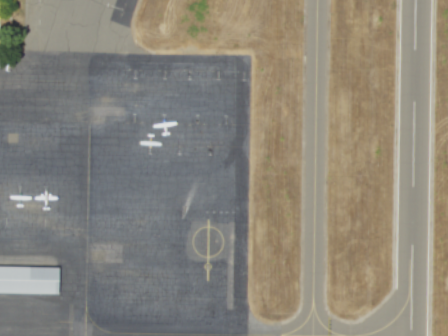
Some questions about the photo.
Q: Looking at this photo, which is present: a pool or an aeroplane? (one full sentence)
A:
Visible in the photo is an aeroplane.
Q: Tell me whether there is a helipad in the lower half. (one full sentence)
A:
Yes, a helipad can be seen in the lower half.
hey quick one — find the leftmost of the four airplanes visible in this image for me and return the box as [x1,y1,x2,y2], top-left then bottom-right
[9,193,32,208]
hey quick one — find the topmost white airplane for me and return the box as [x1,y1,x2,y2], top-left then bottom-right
[154,120,178,136]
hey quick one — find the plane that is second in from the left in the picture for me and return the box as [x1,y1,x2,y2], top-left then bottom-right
[34,192,58,210]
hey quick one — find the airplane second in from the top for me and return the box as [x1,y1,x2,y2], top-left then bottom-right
[140,134,162,150]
